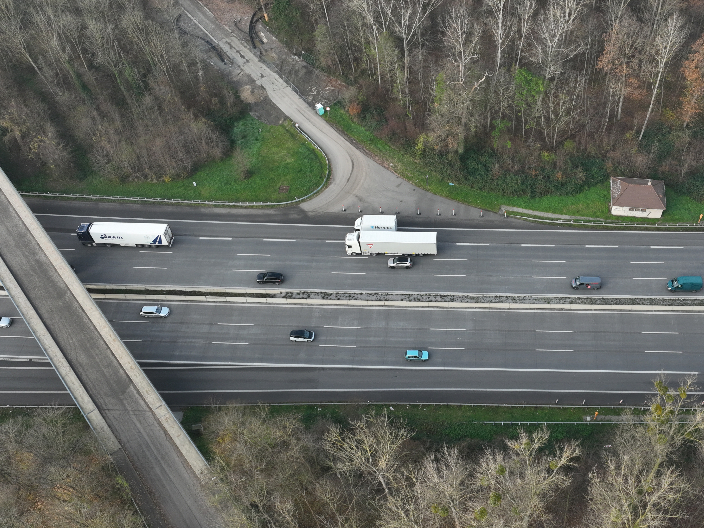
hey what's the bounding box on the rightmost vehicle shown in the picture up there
[666,274,704,292]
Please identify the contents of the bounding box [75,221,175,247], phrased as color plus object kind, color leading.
white truck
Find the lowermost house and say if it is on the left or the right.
right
